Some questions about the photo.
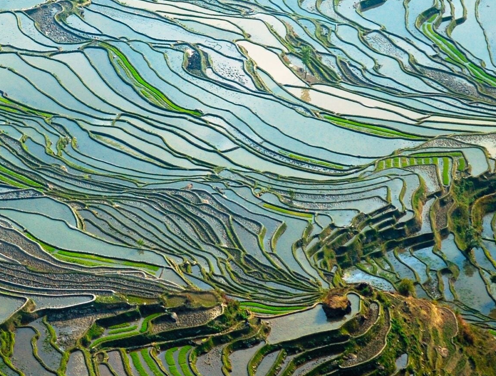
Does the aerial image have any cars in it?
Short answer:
No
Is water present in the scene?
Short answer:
Yes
